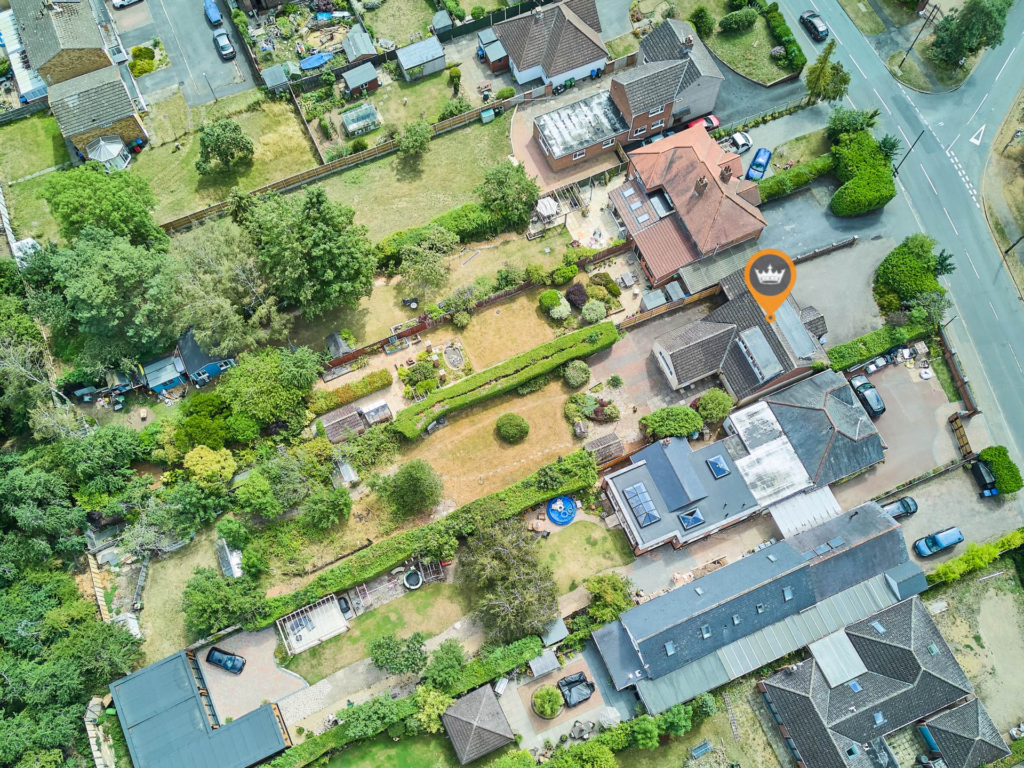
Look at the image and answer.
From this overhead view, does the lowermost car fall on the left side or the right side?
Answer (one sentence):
The lowermost car is on the left side of the image.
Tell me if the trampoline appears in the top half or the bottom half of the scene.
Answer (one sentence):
You can find the trampoline in the bottom half.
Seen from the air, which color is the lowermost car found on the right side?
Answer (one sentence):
The color of the lowermost car found on the right side is blue.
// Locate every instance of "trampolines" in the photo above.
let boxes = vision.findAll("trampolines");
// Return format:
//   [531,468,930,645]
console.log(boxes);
[403,570,423,590]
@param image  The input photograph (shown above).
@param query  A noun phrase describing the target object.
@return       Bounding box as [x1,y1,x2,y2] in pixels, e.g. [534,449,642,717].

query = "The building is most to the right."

[917,697,1013,768]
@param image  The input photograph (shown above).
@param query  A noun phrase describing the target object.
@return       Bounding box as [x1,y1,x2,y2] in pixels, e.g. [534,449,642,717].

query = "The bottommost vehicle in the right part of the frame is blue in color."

[911,524,968,558]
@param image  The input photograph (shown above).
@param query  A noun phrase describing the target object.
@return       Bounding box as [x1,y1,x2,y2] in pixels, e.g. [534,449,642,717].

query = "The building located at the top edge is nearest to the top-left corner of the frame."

[0,0,135,109]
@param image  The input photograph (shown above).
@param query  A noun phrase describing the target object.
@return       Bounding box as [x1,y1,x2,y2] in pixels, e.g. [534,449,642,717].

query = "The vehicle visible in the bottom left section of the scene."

[202,643,250,678]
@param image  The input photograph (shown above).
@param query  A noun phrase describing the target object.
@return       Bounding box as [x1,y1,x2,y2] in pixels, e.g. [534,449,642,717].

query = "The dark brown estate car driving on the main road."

[797,8,833,45]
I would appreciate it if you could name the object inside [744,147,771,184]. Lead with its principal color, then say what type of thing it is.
blue car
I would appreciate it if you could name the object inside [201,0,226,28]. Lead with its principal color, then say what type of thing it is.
blue car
